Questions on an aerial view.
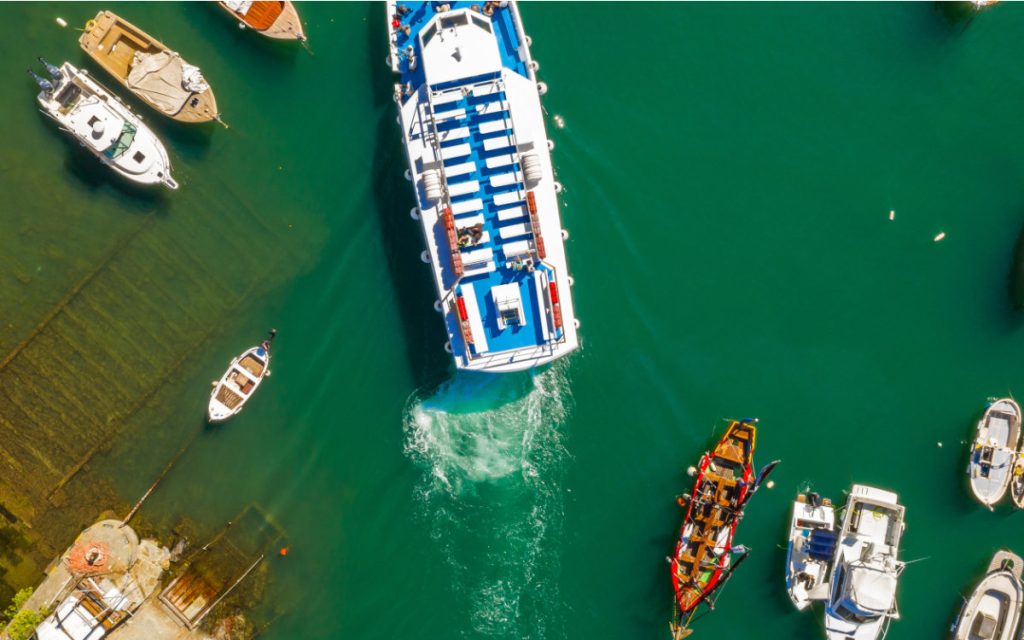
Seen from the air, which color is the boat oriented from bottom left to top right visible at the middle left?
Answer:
white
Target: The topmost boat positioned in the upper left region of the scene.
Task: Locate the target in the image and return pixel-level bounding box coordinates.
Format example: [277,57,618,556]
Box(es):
[216,0,312,55]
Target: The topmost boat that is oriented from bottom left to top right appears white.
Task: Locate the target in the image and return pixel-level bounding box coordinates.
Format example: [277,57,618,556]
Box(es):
[208,332,275,423]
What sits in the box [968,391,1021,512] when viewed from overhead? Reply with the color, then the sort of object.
white boat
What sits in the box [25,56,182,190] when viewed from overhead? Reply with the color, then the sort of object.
white boat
